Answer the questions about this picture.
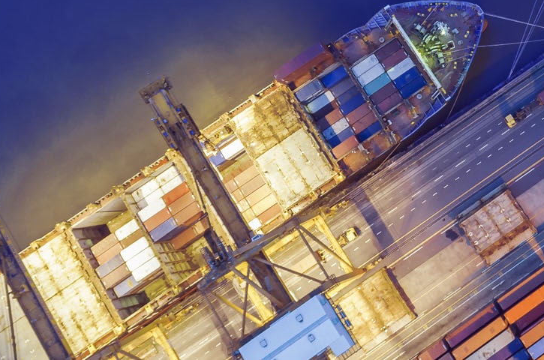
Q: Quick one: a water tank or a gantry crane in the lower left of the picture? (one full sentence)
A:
It is a gantry crane that can be seen in the lower left of the picture.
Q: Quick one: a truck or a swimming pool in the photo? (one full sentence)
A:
The one in the frame is a truck.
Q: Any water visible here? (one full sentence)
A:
Yes, water shows up in the scene.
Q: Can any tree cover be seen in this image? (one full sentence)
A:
No, there is no tree cover in the image.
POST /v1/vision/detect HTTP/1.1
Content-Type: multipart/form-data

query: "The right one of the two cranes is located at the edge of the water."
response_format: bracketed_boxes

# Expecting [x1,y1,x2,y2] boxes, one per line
[135,73,404,360]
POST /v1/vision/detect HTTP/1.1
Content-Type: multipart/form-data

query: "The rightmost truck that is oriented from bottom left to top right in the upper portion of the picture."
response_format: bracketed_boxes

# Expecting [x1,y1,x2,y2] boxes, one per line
[502,97,543,130]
